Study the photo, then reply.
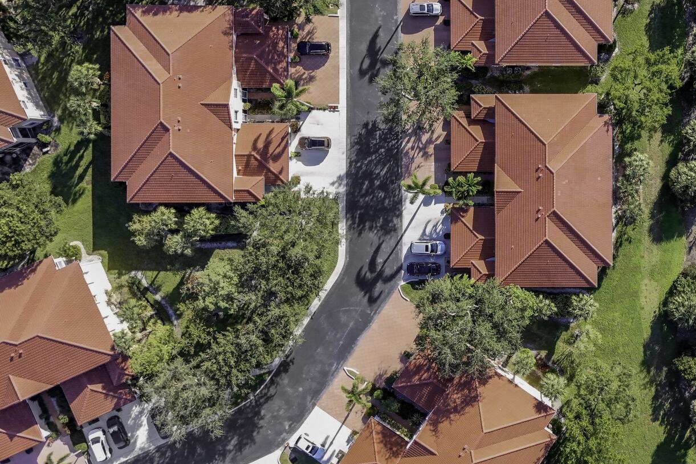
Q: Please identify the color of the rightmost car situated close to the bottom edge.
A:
white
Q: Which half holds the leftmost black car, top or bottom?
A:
bottom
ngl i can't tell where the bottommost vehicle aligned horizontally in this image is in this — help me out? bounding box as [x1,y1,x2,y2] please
[407,262,440,278]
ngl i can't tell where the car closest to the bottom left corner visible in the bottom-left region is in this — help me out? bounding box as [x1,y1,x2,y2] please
[90,428,111,462]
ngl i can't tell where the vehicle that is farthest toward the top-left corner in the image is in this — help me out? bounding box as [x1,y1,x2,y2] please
[297,40,330,56]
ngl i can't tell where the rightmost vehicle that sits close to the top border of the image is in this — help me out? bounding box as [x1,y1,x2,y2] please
[409,0,443,16]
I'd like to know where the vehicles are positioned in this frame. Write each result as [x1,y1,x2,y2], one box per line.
[298,136,331,151]
[90,428,111,462]
[411,239,445,256]
[294,434,326,460]
[108,415,129,448]
[407,262,440,278]
[409,0,443,16]
[297,40,330,56]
